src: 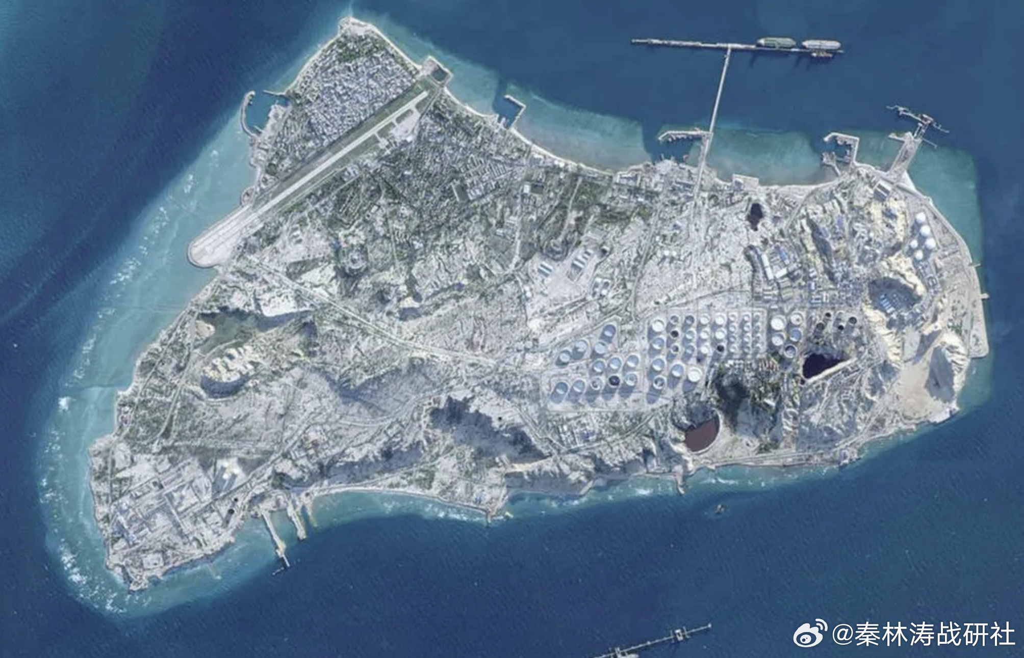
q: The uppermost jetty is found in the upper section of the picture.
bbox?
[631,39,844,51]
